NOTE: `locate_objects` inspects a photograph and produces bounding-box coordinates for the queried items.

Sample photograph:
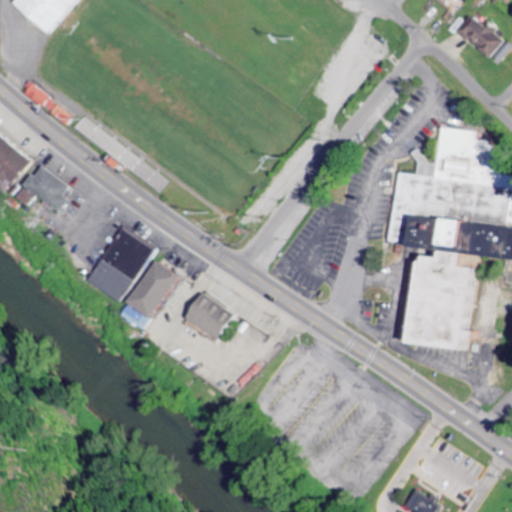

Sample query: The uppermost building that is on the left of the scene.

[11,0,84,36]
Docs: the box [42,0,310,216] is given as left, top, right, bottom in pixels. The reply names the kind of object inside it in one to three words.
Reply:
sports field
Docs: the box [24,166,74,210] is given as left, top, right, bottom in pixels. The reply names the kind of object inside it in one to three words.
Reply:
building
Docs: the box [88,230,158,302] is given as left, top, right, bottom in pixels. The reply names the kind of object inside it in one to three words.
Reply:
building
